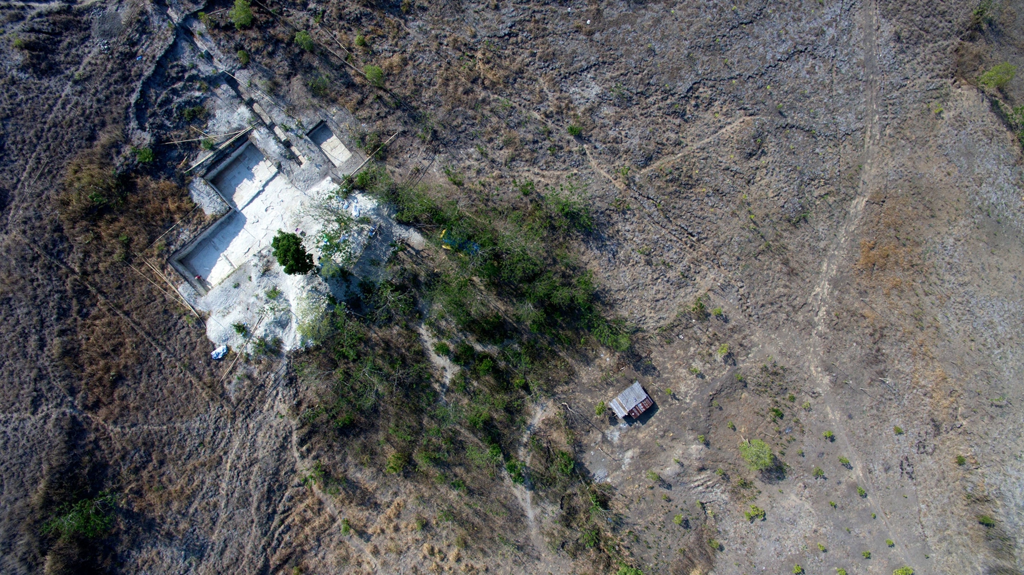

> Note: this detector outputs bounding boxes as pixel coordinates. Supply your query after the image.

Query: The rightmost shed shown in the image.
[608,379,653,419]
